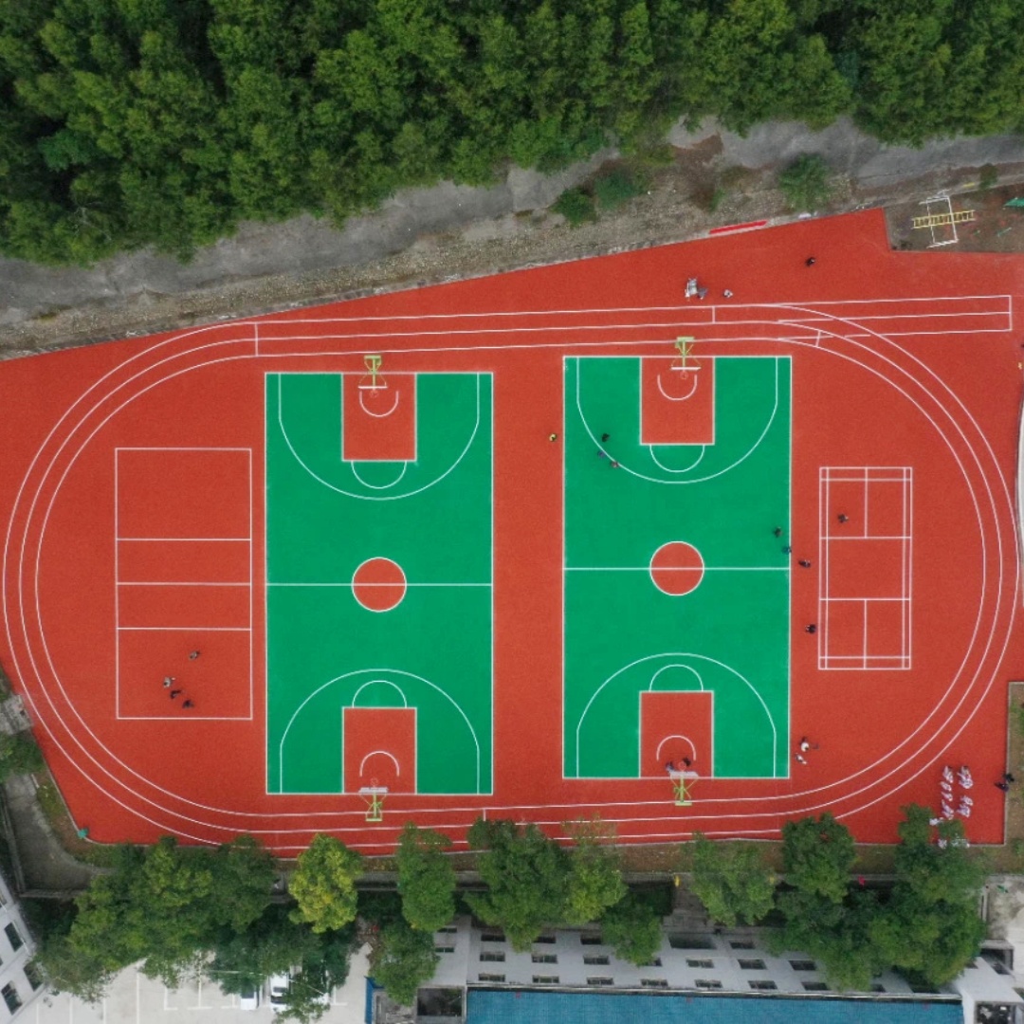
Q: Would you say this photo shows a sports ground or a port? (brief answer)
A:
sports ground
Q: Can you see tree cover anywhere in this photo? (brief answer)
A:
Yes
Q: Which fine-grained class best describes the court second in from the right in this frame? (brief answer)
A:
basketball court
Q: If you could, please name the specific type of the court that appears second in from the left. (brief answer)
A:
basketball court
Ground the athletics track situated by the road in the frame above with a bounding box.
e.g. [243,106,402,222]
[0,208,1024,859]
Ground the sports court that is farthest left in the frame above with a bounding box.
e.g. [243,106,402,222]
[114,447,253,719]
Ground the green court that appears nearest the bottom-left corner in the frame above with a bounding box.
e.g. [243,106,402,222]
[265,371,493,794]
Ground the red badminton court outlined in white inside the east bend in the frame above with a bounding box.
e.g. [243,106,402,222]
[818,466,914,670]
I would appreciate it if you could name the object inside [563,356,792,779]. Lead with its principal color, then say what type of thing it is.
green basketball court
